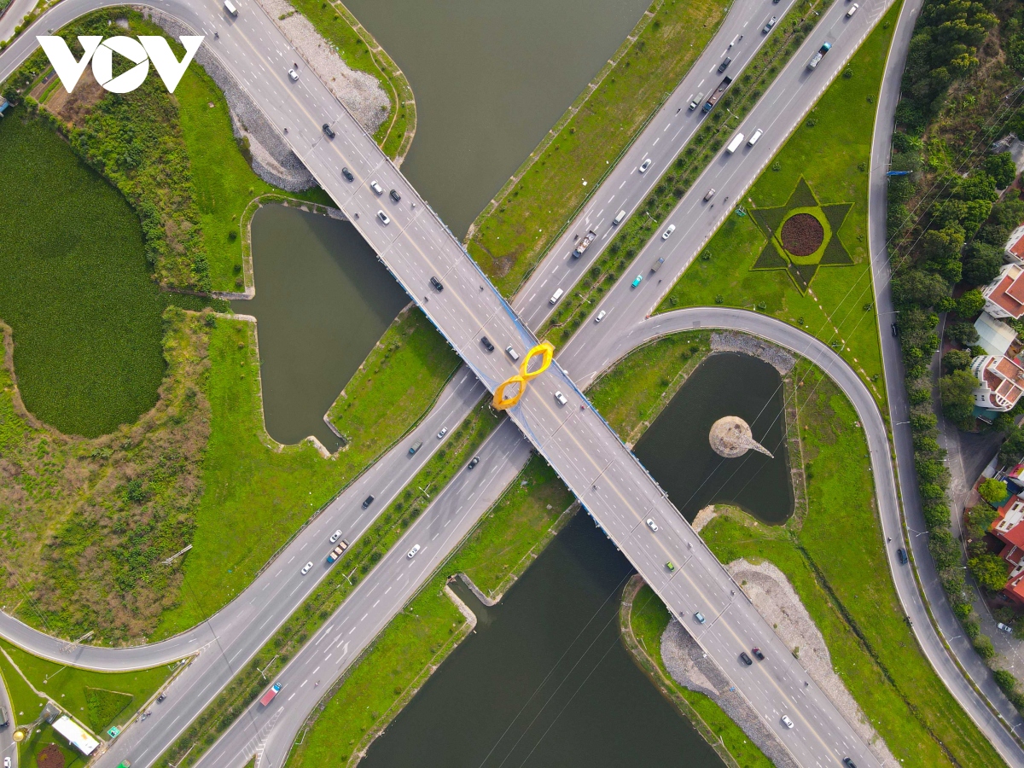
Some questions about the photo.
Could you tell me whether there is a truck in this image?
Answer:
Yes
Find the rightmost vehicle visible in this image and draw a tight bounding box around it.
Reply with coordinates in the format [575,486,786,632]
[995,621,1013,634]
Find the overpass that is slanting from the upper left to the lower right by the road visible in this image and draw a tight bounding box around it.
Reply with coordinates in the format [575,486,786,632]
[201,0,884,768]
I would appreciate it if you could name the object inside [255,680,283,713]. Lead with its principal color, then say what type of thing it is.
red truck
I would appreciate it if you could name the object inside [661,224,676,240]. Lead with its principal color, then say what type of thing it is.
white car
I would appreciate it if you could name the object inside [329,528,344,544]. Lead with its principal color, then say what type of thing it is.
white car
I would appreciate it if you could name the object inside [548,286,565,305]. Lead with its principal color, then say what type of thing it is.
white vehicle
